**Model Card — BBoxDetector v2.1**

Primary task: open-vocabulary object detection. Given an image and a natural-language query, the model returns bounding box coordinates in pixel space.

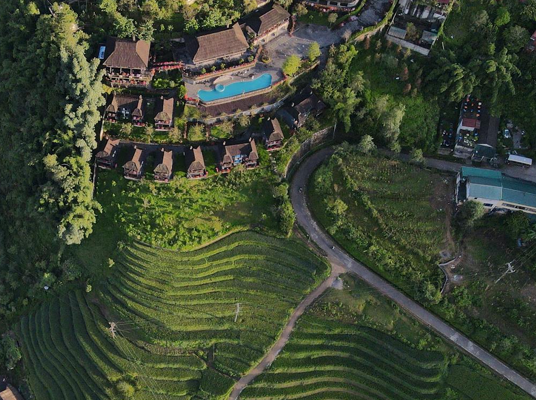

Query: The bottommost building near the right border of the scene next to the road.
[463,167,536,217]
